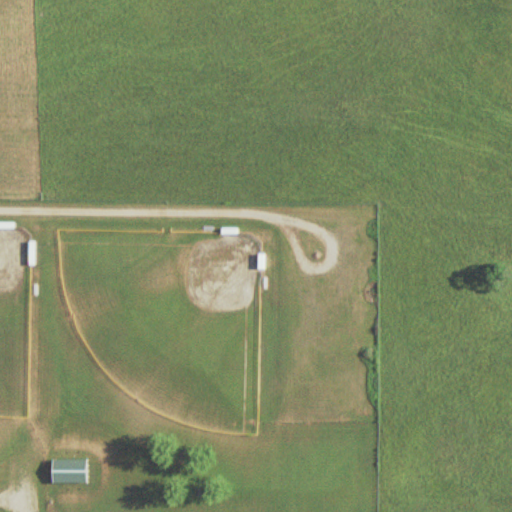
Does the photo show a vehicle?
No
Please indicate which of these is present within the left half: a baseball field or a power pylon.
baseball field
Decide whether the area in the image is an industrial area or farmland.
farmland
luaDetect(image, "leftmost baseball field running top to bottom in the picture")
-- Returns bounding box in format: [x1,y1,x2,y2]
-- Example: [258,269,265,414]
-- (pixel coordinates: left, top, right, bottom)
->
[0,228,32,417]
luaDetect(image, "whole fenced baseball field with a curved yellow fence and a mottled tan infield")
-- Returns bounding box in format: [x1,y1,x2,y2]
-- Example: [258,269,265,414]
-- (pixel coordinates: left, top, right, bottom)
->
[58,230,262,434]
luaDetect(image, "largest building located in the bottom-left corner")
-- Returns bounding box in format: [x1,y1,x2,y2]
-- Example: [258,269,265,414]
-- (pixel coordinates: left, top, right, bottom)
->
[52,460,90,483]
